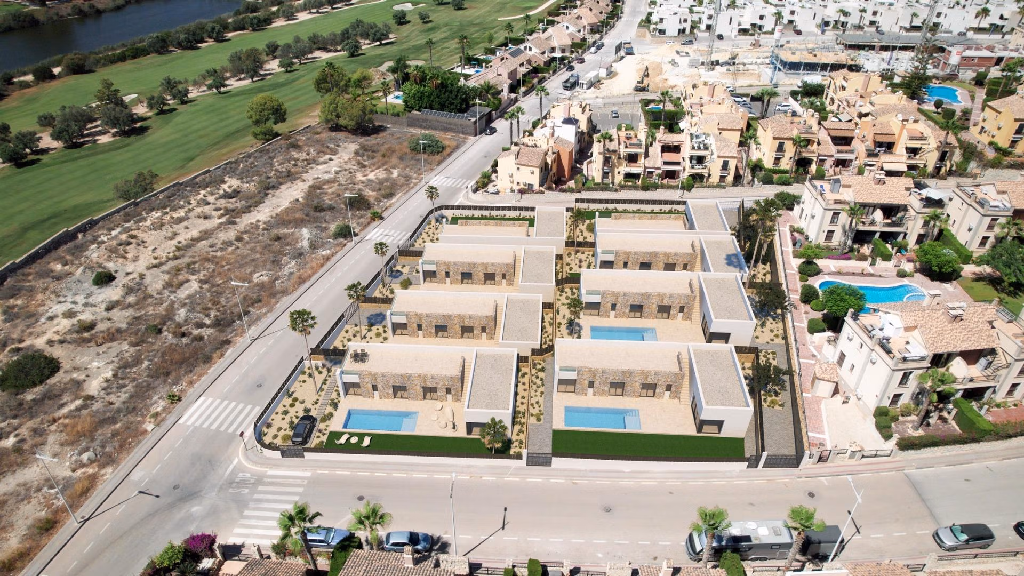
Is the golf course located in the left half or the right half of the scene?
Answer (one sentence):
The golf course sits on the left side.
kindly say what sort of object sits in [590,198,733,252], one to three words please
house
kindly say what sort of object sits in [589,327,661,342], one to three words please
swimming pool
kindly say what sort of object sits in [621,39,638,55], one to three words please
vehicle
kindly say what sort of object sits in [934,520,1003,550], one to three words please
car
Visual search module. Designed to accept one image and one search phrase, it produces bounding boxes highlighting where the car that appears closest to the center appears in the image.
[481,121,498,134]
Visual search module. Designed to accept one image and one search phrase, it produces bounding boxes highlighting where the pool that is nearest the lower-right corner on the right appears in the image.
[816,279,930,308]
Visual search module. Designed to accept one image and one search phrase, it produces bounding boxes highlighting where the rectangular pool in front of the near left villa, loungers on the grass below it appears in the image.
[341,409,420,432]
